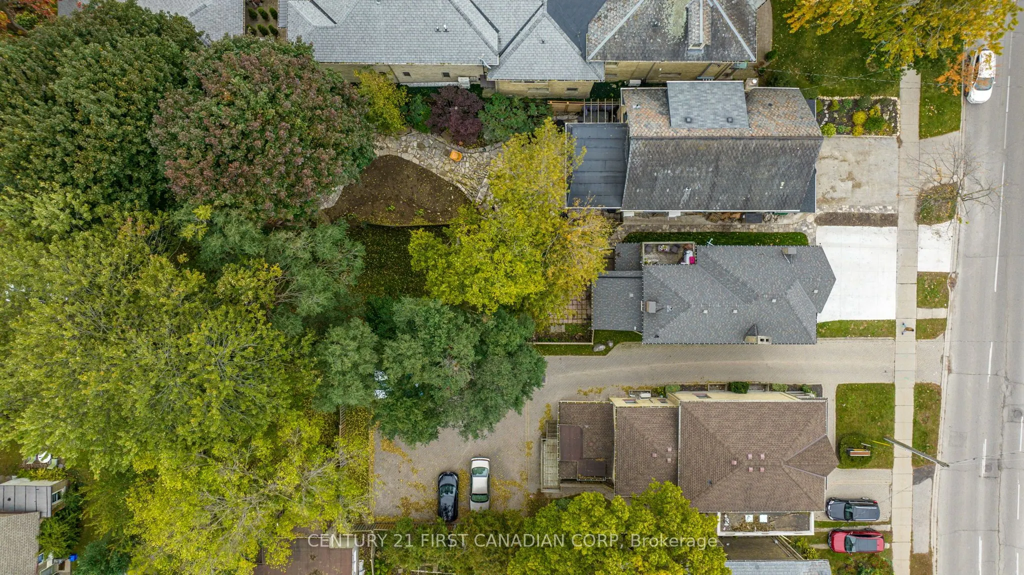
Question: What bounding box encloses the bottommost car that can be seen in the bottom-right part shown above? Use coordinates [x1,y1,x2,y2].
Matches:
[826,526,885,556]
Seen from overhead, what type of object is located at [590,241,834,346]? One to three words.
house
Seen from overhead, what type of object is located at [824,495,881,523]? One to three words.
car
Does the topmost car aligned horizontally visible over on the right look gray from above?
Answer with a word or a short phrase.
Yes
